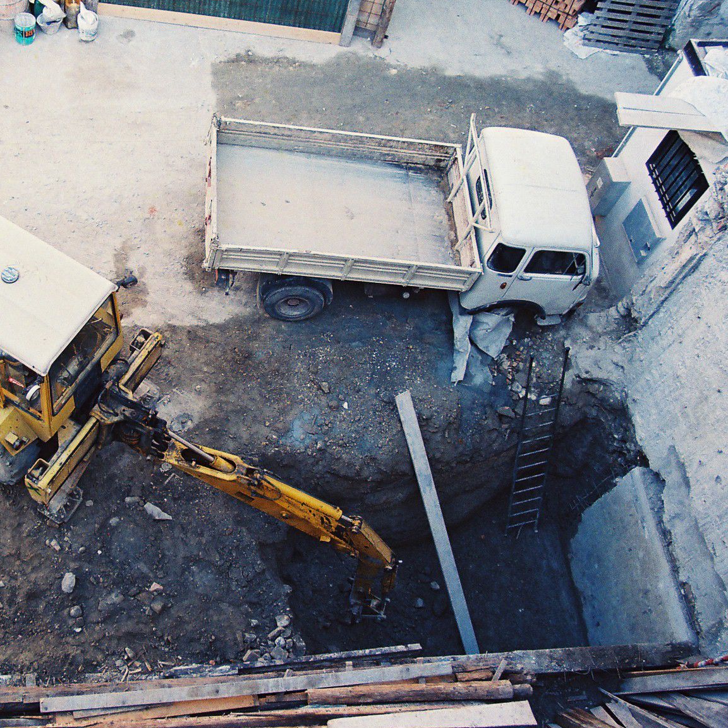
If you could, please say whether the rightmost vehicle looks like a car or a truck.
truck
